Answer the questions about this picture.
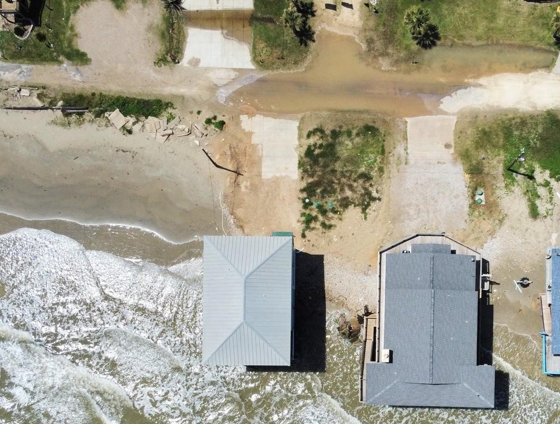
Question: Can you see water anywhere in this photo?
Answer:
Yes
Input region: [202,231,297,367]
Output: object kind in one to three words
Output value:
house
